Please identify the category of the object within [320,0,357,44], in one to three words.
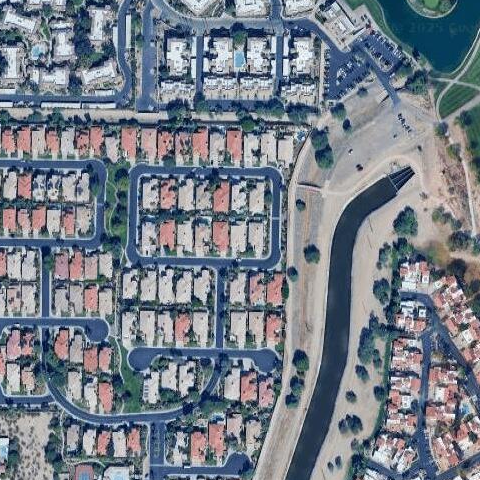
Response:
building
